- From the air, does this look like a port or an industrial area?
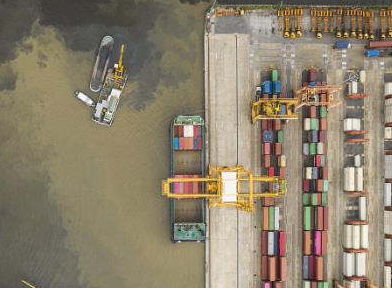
port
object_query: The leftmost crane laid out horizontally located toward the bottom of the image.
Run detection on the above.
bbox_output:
[157,161,288,213]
